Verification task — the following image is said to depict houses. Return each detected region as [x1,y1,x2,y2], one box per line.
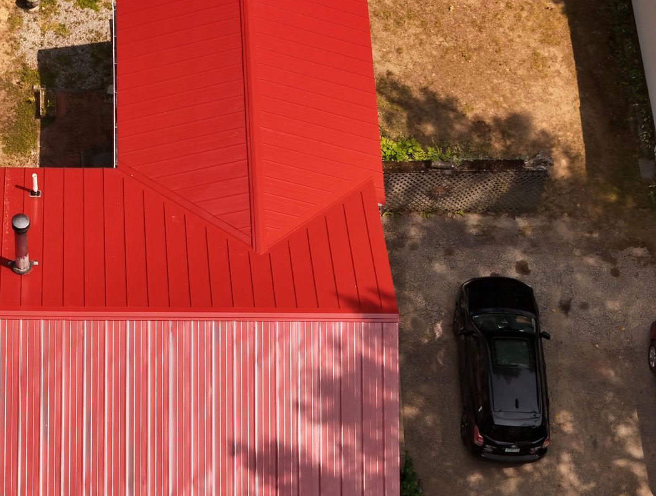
[0,0,401,496]
[634,0,656,188]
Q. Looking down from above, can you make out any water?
No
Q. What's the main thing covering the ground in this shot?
buildings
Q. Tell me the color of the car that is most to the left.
black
